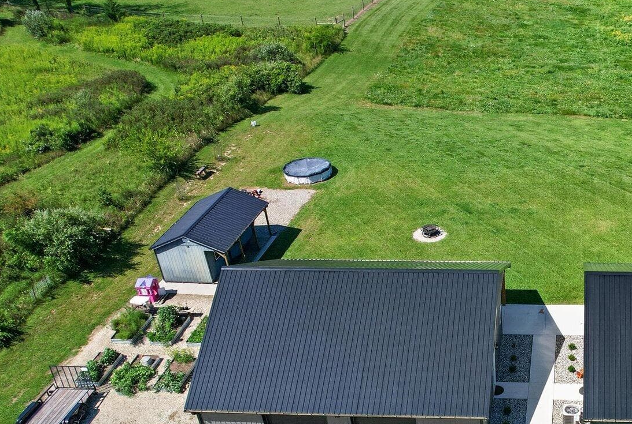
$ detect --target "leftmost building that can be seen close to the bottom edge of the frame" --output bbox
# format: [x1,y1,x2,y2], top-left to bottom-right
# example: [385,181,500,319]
[184,257,512,424]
